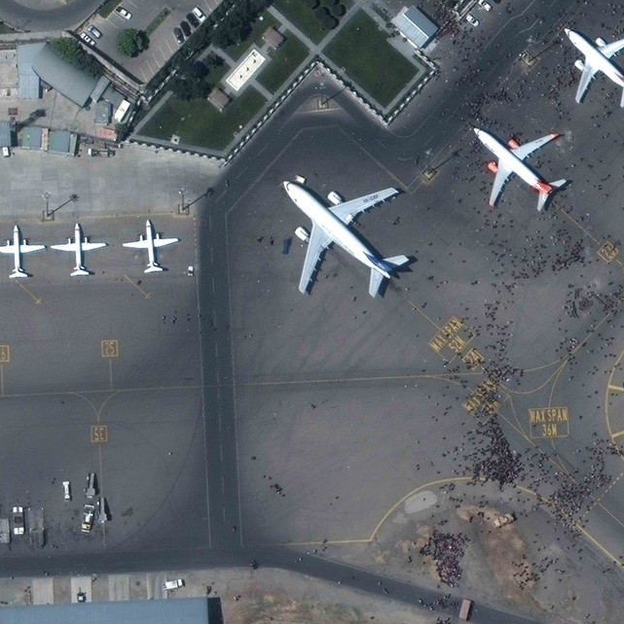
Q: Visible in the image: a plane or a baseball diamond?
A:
plane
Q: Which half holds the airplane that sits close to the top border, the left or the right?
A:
right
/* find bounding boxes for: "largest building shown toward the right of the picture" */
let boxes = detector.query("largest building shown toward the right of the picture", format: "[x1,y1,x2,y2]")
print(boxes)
[395,4,438,50]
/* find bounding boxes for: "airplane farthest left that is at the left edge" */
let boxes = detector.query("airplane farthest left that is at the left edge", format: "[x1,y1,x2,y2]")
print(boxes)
[0,225,45,275]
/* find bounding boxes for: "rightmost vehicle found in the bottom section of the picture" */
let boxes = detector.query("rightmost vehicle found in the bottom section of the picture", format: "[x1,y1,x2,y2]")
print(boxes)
[493,510,516,527]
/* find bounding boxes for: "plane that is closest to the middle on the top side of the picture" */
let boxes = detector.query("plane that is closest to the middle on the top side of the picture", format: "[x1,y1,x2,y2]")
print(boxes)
[283,181,402,290]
